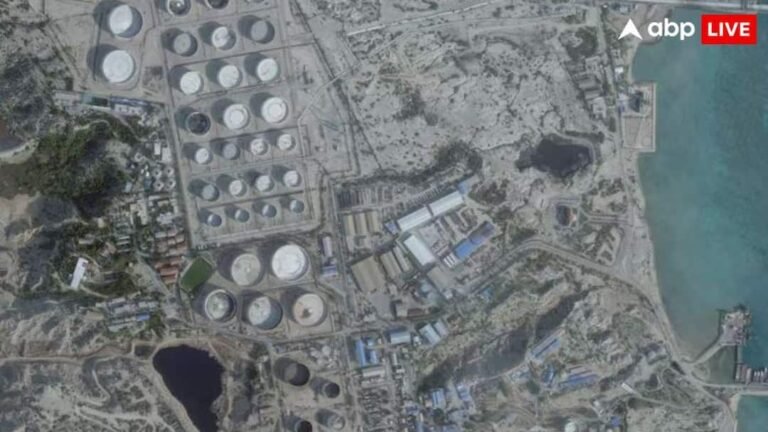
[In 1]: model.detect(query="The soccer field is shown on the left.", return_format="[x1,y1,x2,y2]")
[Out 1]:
[178,254,215,294]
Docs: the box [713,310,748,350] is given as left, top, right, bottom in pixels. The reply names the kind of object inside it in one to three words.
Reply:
pier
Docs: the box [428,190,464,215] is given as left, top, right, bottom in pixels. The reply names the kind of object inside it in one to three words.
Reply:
building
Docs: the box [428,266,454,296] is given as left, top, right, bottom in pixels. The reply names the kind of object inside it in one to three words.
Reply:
building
